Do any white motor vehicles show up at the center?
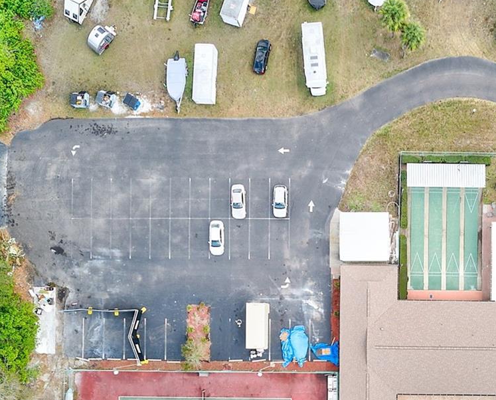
Yes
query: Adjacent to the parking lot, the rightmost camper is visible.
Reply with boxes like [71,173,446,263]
[302,16,328,100]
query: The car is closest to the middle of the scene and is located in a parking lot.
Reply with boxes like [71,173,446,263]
[230,184,246,218]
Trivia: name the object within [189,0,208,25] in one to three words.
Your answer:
boat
